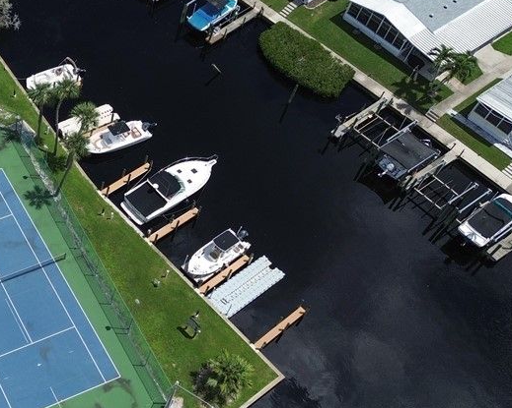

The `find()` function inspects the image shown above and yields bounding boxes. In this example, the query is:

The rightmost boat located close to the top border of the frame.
[185,0,238,35]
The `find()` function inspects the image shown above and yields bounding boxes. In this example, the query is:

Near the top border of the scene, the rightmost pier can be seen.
[203,2,265,50]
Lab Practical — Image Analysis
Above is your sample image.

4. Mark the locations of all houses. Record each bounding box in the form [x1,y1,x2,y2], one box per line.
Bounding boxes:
[468,70,512,141]
[344,0,512,82]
